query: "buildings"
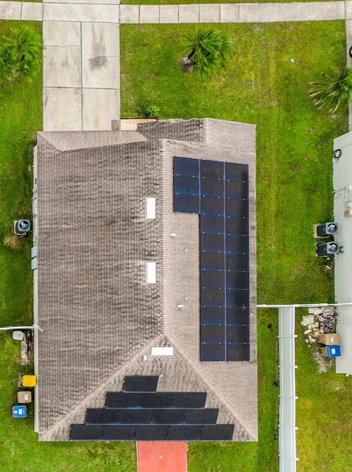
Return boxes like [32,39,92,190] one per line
[30,118,258,442]
[335,134,352,375]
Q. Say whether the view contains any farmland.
No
